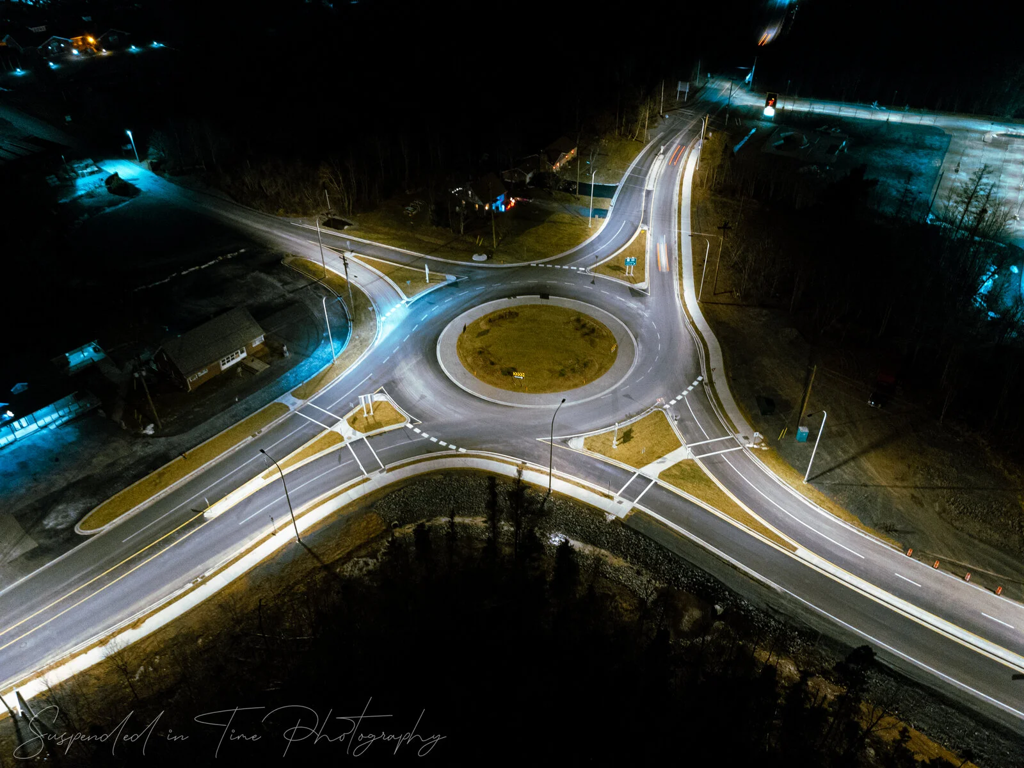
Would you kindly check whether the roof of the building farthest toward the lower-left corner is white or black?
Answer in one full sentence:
In this view, the roof of the building farthest toward the lower-left corner is black.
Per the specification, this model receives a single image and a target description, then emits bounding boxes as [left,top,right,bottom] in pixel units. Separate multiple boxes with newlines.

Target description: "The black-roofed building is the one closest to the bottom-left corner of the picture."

[0,346,88,460]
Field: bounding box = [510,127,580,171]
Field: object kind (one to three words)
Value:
house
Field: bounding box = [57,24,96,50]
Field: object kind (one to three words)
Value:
house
